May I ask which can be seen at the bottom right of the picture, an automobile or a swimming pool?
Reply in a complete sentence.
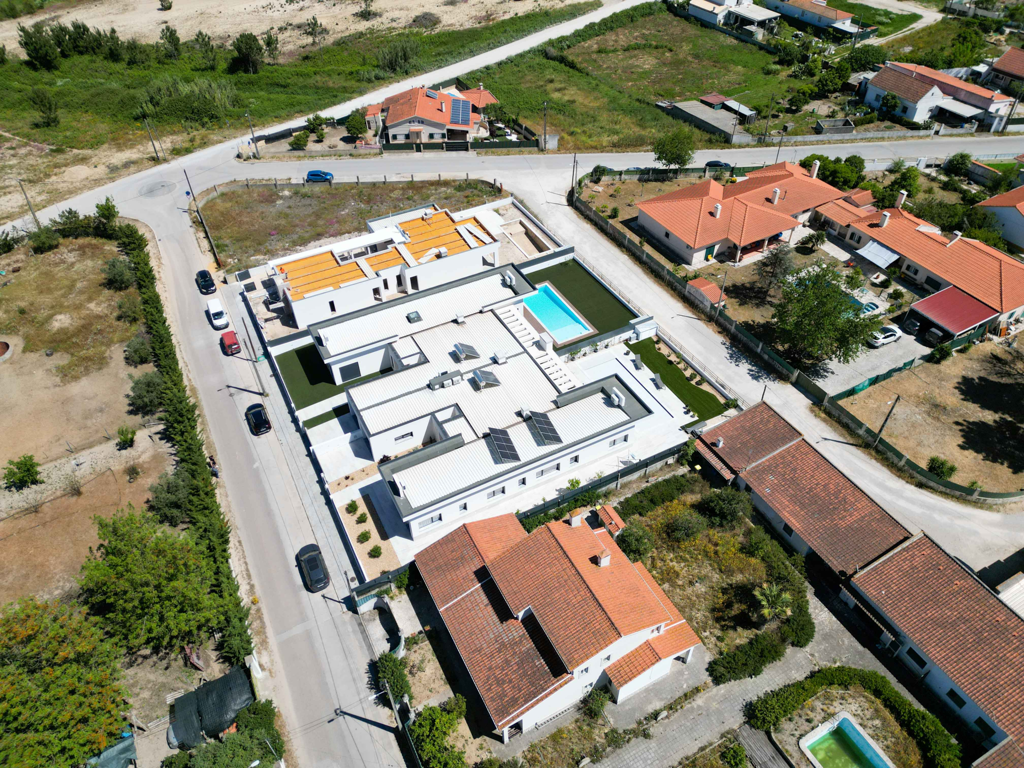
The feature located at the bottom right of the picture is a swimming pool.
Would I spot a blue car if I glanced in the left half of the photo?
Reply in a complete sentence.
Yes, there is a blue car in the left half of the photo.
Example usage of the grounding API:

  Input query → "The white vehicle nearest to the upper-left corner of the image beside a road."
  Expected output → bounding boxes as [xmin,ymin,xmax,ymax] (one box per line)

[201,293,230,331]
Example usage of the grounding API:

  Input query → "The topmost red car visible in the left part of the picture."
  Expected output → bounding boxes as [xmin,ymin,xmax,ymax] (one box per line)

[218,331,242,358]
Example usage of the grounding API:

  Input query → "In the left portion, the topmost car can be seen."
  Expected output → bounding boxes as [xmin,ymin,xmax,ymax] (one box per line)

[305,168,336,184]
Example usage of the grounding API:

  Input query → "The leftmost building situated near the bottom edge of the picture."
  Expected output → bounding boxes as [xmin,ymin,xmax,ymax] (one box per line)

[411,509,705,746]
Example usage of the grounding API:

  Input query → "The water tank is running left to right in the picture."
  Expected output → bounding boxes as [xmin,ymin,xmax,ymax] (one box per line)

[816,116,855,131]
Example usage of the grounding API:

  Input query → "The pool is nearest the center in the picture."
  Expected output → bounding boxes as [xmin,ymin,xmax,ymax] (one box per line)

[524,284,600,348]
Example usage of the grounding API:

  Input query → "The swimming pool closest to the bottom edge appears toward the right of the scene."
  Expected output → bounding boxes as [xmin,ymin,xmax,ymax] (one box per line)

[798,711,897,768]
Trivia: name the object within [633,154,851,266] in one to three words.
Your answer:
house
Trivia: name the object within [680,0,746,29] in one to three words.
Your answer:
house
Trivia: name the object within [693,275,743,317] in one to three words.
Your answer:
shed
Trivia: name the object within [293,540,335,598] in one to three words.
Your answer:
car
